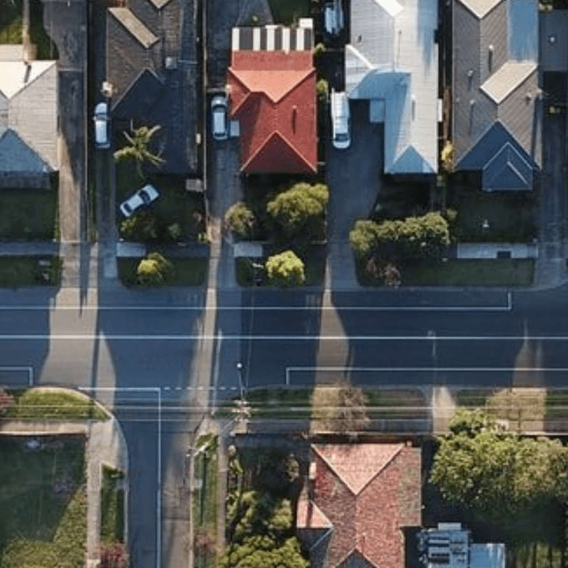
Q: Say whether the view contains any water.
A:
No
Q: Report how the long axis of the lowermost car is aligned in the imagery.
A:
at an angle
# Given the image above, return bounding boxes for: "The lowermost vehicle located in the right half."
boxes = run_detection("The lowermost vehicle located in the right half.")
[332,91,351,147]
